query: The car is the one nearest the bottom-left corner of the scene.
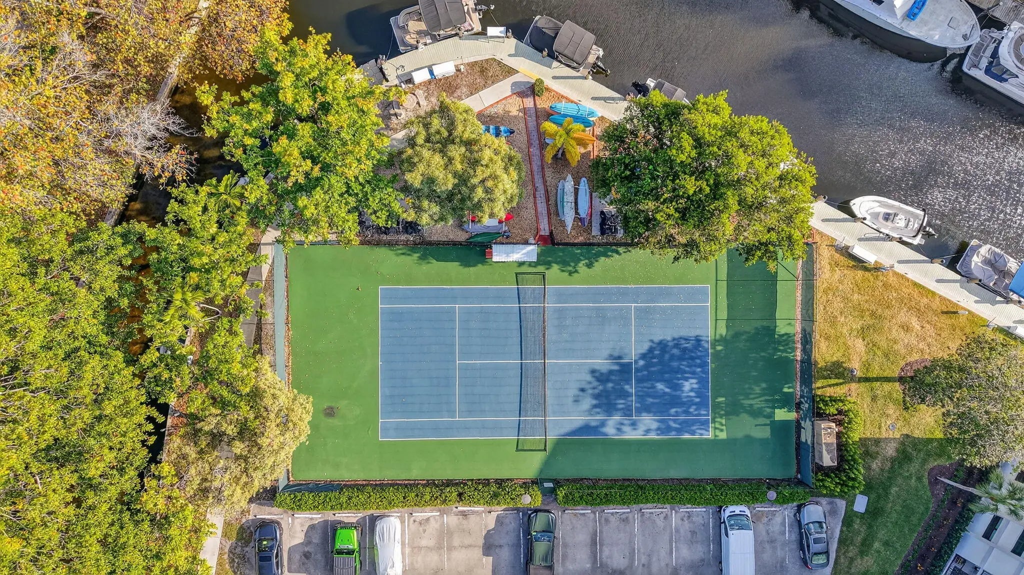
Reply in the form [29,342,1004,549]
[249,521,284,575]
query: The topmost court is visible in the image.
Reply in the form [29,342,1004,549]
[288,244,796,479]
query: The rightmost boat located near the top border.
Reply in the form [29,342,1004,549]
[957,23,1024,109]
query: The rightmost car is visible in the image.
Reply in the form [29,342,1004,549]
[799,504,835,574]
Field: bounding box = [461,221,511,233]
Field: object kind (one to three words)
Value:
boat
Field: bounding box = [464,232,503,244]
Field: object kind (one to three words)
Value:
boat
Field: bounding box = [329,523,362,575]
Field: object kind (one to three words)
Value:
car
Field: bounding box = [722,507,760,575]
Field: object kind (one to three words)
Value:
van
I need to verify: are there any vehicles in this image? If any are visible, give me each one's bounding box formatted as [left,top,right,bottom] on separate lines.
[249,521,284,575]
[526,510,558,575]
[799,504,835,574]
[329,523,362,575]
[722,507,760,575]
[374,516,402,575]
